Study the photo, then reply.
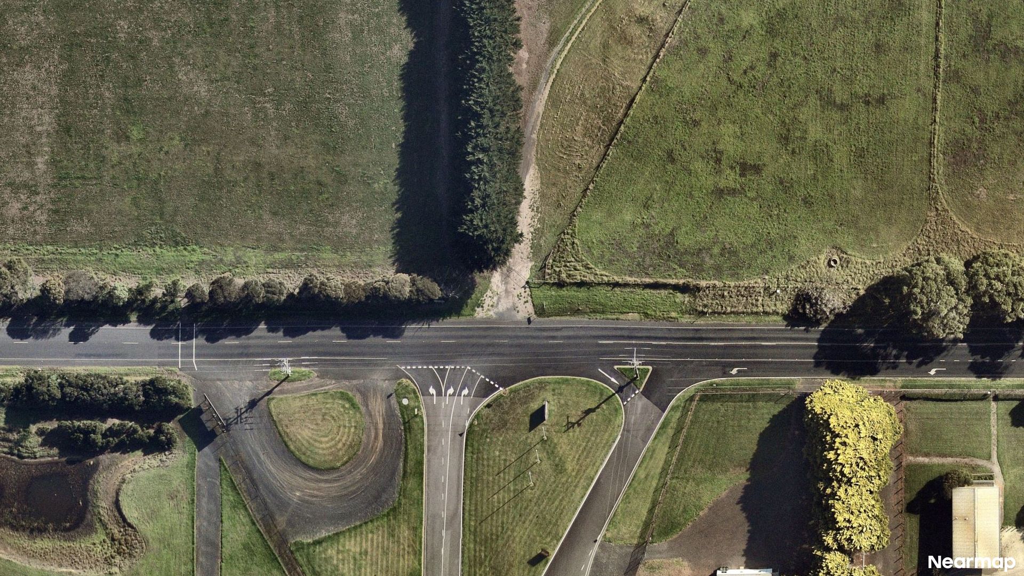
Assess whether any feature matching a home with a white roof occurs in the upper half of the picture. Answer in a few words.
No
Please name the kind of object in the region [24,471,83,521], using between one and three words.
pond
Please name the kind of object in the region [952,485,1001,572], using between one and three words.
house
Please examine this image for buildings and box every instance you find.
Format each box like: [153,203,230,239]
[717,570,772,576]
[952,485,1001,572]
